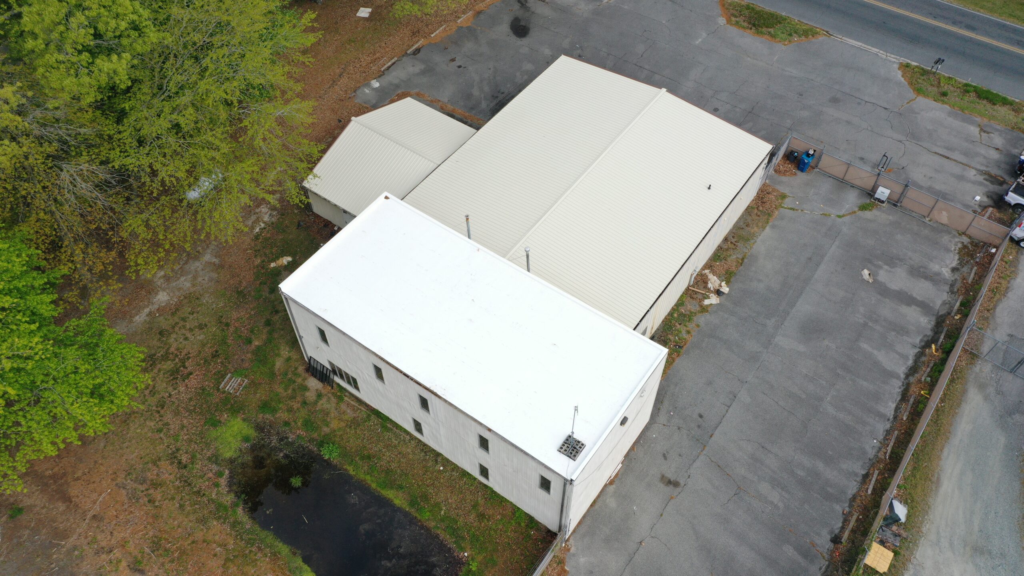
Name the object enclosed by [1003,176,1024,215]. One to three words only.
truck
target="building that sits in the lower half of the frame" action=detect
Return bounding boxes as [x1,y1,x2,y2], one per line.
[277,191,669,538]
